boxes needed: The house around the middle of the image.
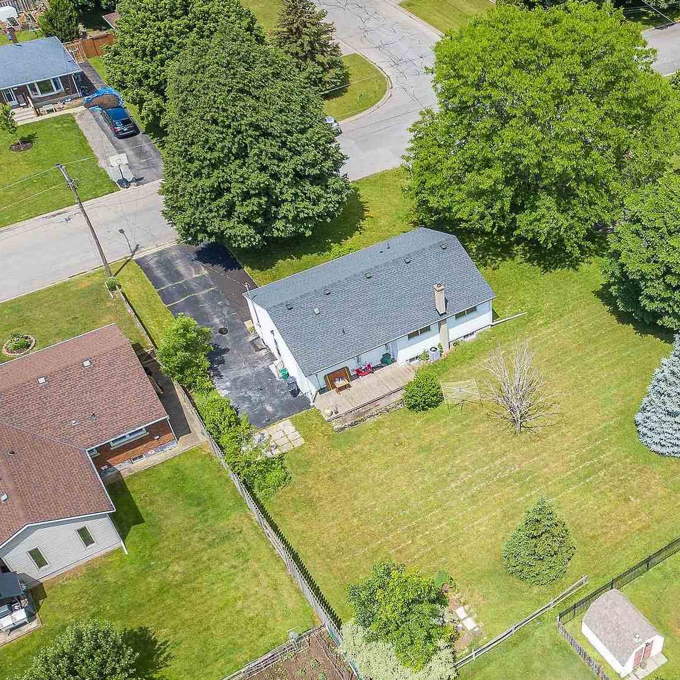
[237,227,524,404]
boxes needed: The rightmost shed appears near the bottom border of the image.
[580,583,671,680]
